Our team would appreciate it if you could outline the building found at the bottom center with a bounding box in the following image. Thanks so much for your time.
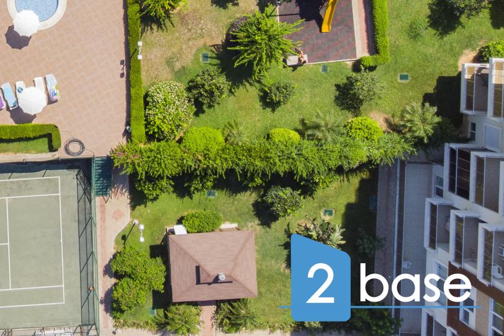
[163,222,259,303]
